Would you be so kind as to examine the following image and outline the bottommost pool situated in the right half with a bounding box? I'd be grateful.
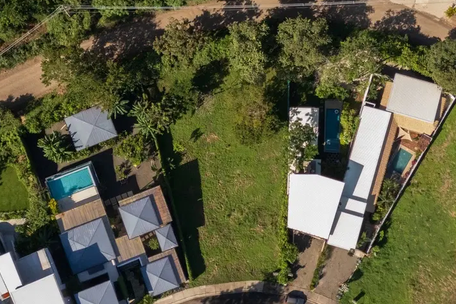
[388,142,414,176]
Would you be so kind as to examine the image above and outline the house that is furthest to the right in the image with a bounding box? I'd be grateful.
[380,73,447,136]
